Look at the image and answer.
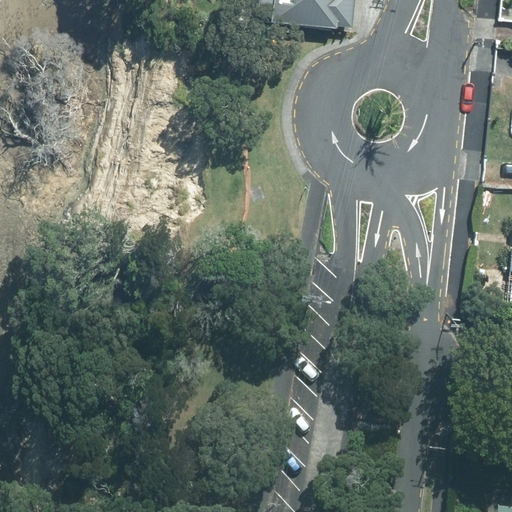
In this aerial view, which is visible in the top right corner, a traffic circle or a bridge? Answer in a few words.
traffic circle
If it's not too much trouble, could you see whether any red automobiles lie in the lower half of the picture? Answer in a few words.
No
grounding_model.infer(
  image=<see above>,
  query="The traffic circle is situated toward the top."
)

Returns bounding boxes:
[332,88,428,162]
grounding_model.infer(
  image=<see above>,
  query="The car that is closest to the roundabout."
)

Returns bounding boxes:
[460,84,474,113]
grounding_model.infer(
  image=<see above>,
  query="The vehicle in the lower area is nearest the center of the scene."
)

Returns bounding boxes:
[296,358,320,382]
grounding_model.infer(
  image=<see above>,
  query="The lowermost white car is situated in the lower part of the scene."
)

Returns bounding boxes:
[290,408,311,436]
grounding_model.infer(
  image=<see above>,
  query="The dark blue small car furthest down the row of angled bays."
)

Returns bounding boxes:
[284,453,306,478]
